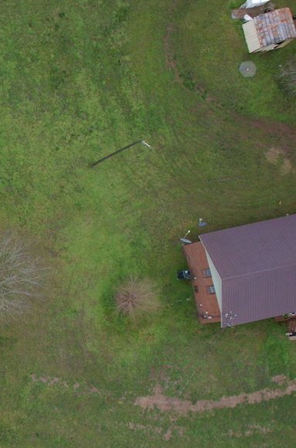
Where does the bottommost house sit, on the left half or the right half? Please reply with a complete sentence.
The bottommost house sits on the right side.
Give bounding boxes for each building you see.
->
[198,217,296,327]
[243,7,296,53]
